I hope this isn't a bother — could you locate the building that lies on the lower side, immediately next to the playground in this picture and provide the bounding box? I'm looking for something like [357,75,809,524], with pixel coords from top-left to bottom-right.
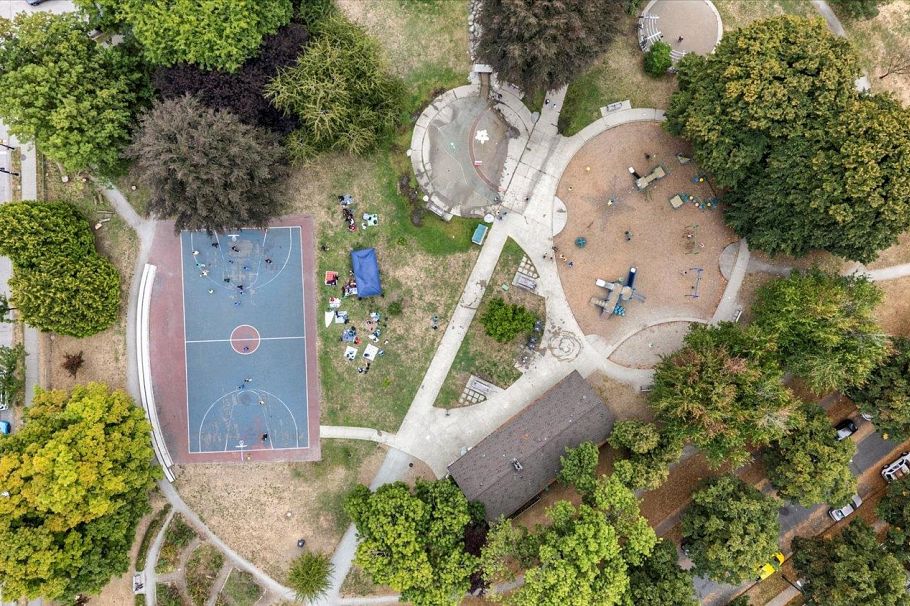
[447,369,613,530]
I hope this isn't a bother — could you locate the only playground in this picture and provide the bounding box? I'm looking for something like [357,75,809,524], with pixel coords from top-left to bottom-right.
[555,121,746,345]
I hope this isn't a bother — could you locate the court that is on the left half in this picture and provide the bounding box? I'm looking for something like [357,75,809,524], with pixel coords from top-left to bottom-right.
[150,214,322,464]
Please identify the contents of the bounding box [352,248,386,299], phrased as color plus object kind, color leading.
blue tent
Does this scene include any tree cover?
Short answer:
Yes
